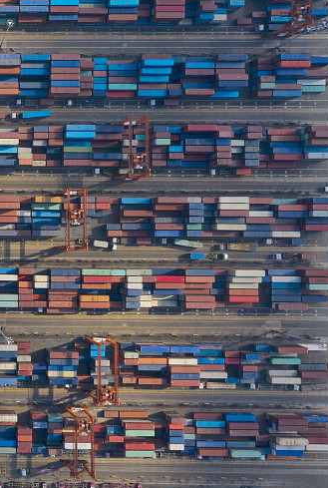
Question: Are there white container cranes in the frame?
No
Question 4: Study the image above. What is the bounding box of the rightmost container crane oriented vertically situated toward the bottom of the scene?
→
[87,333,119,408]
